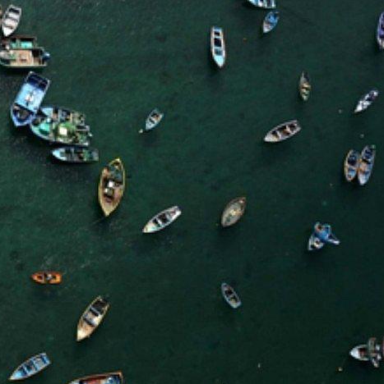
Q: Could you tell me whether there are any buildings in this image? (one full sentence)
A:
No, I can see no building in this picture.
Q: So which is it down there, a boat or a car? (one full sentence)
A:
Visible in the photo is a boat.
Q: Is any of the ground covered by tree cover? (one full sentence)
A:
No, no tree cover is visible.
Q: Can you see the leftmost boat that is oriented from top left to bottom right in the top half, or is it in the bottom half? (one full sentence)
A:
Seen from above, the leftmost boat that is oriented from top left to bottom right lies in the bottom half of the view.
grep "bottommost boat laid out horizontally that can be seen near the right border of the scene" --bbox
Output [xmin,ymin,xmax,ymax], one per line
[349,345,384,361]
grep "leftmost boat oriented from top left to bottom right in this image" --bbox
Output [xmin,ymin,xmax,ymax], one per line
[221,283,241,310]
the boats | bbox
[210,26,226,67]
[349,345,384,361]
[78,297,110,343]
[1,33,38,50]
[144,108,163,131]
[142,205,183,231]
[368,337,377,366]
[222,195,248,228]
[323,233,342,244]
[342,149,359,182]
[32,270,61,284]
[99,158,126,217]
[52,146,99,161]
[262,8,280,33]
[72,374,124,384]
[263,118,302,140]
[9,353,49,382]
[306,219,332,251]
[2,3,22,35]
[297,71,312,101]
[0,45,50,68]
[375,10,384,49]
[353,88,377,113]
[221,283,241,310]
[10,69,50,129]
[248,0,276,8]
[357,145,375,185]
[30,116,95,149]
[41,103,87,123]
